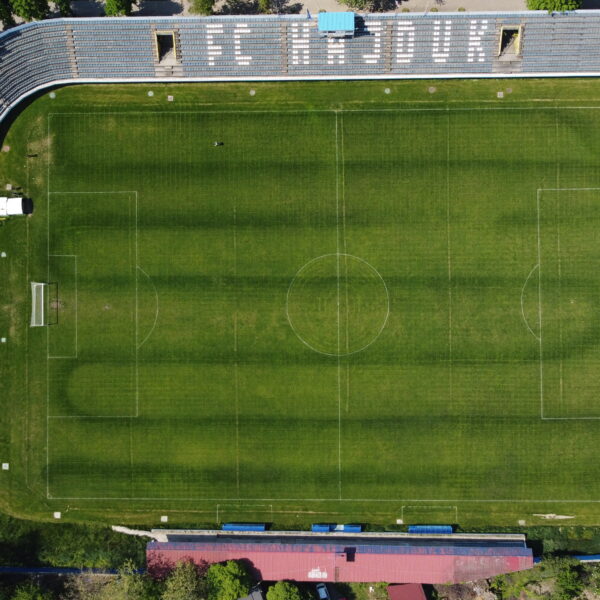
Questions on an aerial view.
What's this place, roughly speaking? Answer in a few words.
sports ground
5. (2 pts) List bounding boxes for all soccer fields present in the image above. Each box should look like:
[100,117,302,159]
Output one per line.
[40,103,600,521]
